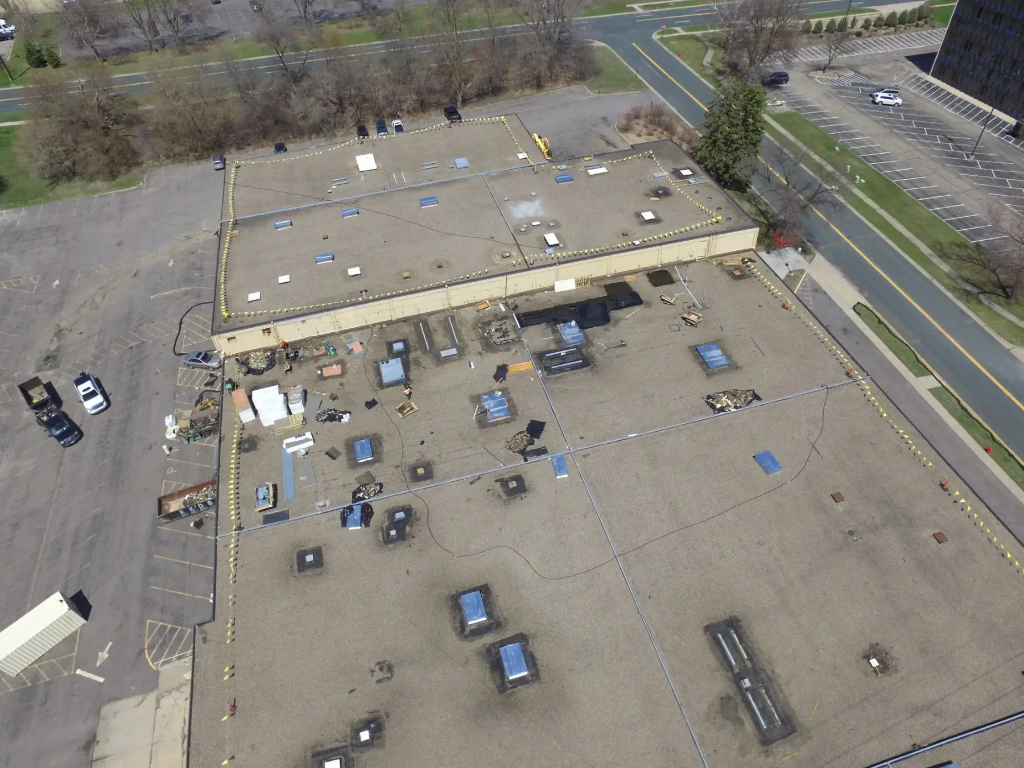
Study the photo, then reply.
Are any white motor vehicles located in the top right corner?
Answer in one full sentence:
Yes, a white motor vehicle is visible in the top right corner.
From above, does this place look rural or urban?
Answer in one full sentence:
From above, the setting appears urban.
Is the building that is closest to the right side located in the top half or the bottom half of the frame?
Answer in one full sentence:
It is in the top half that the building that is closest to the right side appears.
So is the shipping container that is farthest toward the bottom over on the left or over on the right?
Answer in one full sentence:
The shipping container that is farthest toward the bottom appears in the left half of the scene.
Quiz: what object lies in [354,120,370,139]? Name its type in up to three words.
car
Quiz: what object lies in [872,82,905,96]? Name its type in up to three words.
car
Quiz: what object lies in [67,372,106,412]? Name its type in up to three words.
truck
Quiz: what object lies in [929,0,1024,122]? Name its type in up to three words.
building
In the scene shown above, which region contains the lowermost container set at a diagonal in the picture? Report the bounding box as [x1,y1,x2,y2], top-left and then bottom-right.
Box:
[0,590,86,676]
